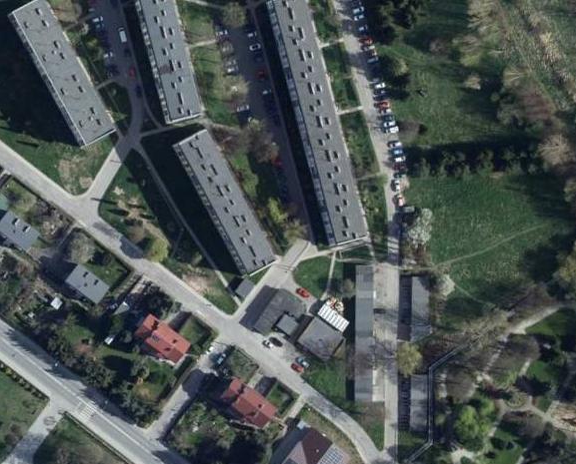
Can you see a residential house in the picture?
Yes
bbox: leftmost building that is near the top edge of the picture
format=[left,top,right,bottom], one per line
[9,0,115,148]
